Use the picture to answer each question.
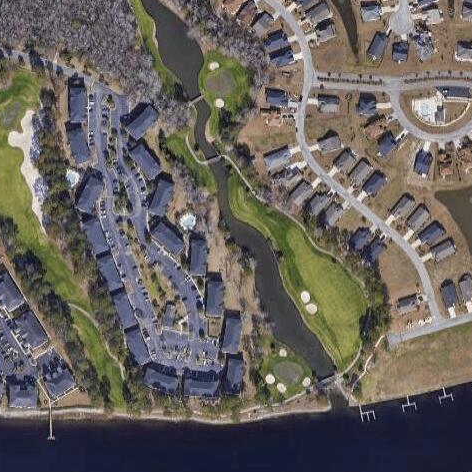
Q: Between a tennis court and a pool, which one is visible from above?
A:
pool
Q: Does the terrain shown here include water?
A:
Yes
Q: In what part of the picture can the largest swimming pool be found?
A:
top right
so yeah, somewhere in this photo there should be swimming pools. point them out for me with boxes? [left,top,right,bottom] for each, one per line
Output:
[65,169,78,188]
[180,213,196,230]
[411,99,438,126]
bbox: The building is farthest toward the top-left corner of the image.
[68,86,87,122]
